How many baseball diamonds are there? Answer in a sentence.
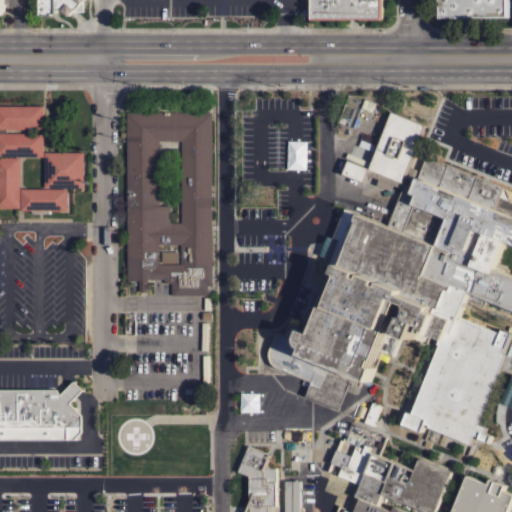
I count no baseball diamonds.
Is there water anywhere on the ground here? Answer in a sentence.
No, the picture contains no water.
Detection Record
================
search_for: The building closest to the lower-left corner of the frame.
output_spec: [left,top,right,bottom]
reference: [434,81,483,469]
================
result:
[0,382,87,442]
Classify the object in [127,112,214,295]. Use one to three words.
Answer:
building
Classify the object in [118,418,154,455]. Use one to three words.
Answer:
helipad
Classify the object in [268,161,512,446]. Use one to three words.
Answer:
building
